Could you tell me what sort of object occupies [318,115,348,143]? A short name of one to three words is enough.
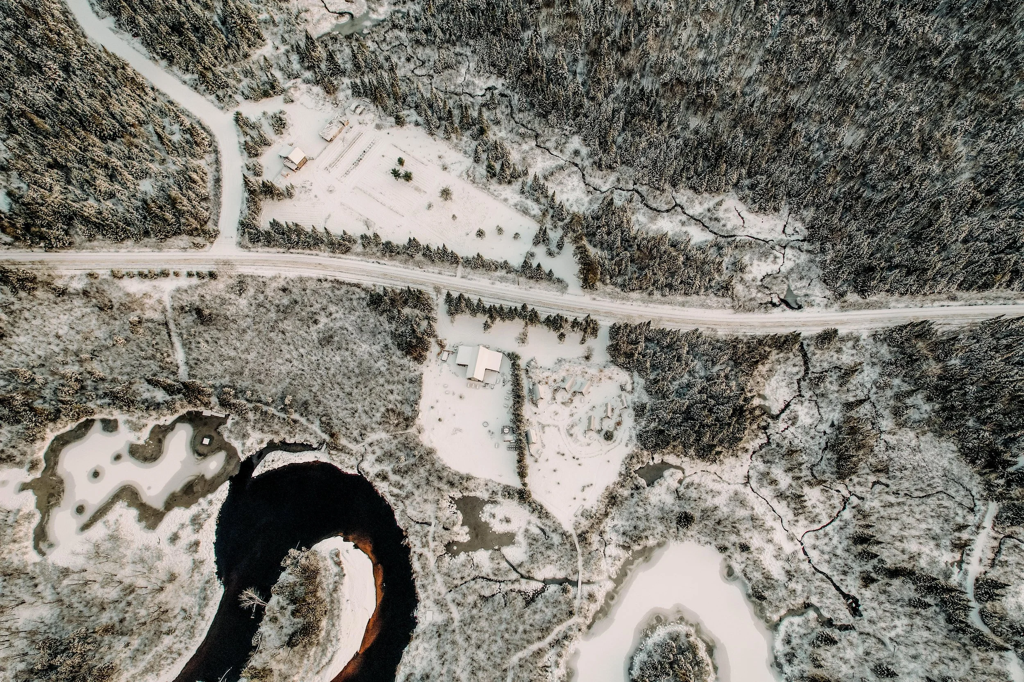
shed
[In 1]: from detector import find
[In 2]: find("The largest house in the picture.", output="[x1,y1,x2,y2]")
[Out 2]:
[455,345,503,385]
